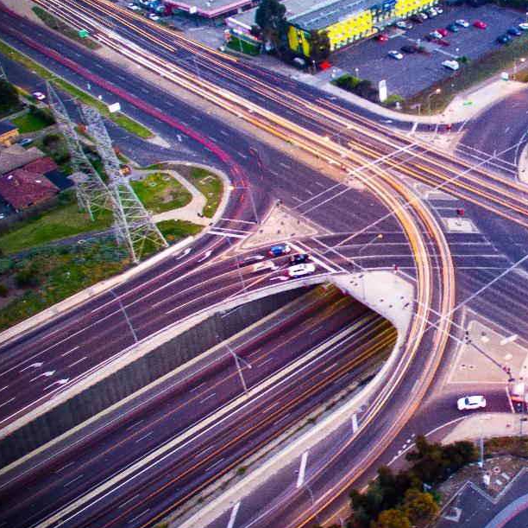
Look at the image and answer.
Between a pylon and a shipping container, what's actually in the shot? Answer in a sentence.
Visible in the photo is a pylon.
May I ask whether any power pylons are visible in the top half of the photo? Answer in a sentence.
Yes, looking in the top half of the photo, one can make out a power pylon.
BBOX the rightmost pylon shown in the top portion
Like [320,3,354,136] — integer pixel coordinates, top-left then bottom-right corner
[76,100,173,262]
